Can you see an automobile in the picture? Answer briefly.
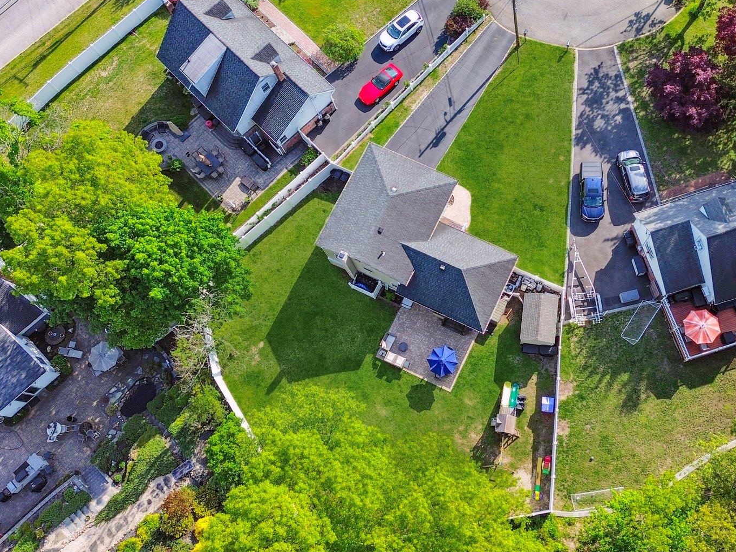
Yes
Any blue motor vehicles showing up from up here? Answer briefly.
Yes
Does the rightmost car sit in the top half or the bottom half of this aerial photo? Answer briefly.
top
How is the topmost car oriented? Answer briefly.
diagonally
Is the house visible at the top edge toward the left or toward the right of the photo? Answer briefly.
left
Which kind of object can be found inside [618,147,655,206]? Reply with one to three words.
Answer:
car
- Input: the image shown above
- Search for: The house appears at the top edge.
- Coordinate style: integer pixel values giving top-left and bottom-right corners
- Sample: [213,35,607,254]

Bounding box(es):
[155,0,341,154]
